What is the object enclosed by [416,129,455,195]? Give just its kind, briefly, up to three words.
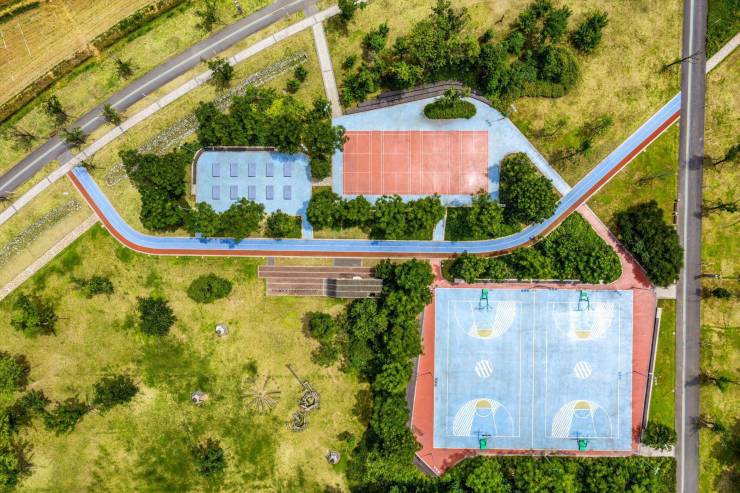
sports court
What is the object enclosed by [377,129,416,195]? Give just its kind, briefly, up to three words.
sports court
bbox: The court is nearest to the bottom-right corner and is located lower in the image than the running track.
[533,289,632,450]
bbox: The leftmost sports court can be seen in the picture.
[343,130,377,195]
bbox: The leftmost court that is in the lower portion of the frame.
[434,288,534,450]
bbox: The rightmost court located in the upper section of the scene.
[455,131,489,195]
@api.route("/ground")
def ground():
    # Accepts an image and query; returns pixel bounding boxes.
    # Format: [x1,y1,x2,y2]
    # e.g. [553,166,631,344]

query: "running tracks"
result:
[66,93,682,259]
